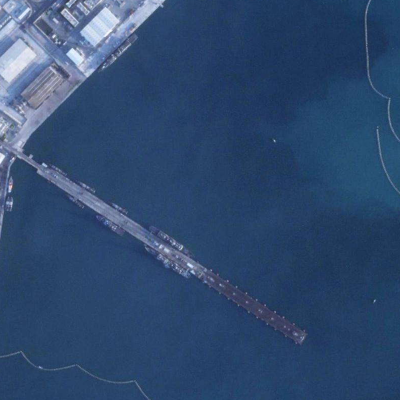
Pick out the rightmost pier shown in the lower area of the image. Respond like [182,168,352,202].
[17,151,306,343]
